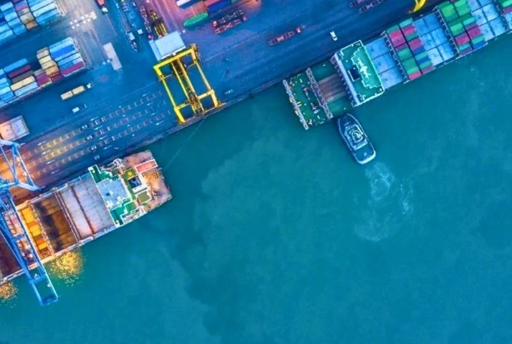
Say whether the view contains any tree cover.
No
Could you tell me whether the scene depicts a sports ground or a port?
port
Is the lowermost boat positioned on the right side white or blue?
blue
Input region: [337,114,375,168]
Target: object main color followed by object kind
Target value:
blue boat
